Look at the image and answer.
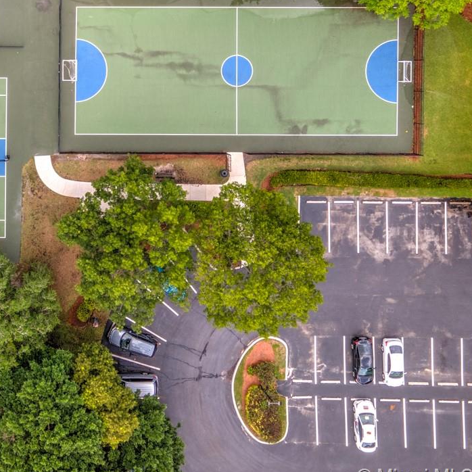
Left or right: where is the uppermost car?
left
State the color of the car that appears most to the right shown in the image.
white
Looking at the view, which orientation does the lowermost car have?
vertically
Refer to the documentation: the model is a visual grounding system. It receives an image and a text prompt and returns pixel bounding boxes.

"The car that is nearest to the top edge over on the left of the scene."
[106,323,159,356]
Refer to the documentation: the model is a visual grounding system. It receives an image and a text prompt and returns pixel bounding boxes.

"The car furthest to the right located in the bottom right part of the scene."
[382,338,408,386]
